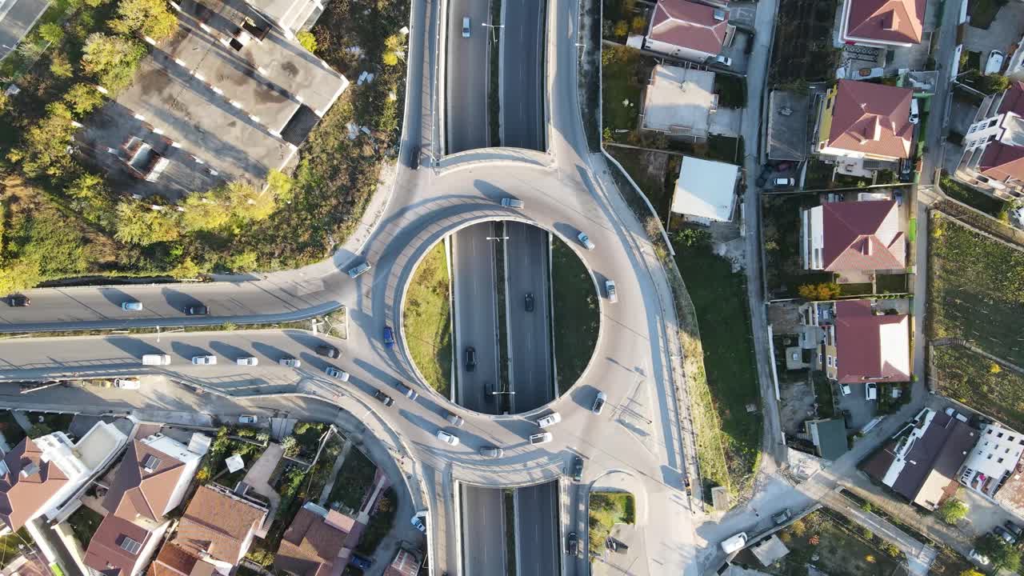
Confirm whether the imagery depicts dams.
No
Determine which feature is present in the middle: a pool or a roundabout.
roundabout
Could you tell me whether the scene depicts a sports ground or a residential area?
residential area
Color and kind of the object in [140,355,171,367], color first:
white vehicle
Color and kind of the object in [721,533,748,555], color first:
white vehicle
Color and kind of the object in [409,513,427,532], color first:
blue car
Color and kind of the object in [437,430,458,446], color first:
white car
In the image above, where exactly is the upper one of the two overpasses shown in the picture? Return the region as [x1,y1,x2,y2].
[438,149,562,179]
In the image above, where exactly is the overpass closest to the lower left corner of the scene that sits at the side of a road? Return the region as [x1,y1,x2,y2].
[445,454,568,486]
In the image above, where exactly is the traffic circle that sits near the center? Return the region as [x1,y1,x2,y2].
[349,166,653,468]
